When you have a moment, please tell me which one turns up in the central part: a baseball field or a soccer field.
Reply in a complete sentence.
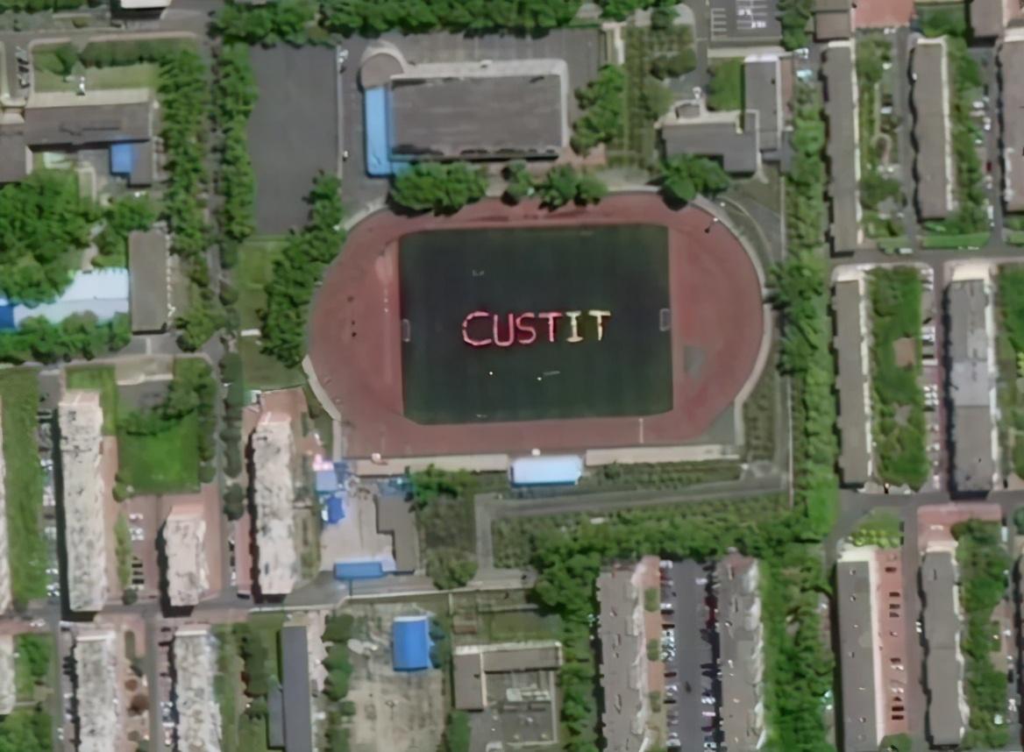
There is a soccer field in the central part.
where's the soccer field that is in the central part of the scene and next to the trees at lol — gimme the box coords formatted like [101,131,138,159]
[401,225,672,424]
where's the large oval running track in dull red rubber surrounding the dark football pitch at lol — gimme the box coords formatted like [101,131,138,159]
[304,189,763,458]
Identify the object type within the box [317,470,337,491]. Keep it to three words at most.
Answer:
shed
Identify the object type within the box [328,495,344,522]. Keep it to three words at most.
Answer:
shed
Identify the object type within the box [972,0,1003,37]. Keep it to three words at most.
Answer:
building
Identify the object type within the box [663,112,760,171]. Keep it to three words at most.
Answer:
building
